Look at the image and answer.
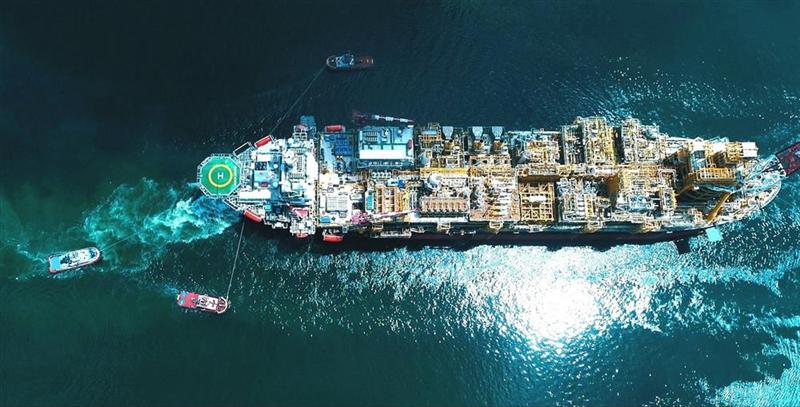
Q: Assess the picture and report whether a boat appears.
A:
Yes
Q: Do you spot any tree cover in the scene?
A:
No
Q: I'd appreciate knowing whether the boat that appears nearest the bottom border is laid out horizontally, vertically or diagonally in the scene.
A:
horizontally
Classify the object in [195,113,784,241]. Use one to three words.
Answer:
ship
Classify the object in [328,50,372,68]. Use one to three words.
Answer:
boat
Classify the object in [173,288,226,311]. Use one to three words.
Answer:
boat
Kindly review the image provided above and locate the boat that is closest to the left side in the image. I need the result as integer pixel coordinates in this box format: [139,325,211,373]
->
[45,247,98,273]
